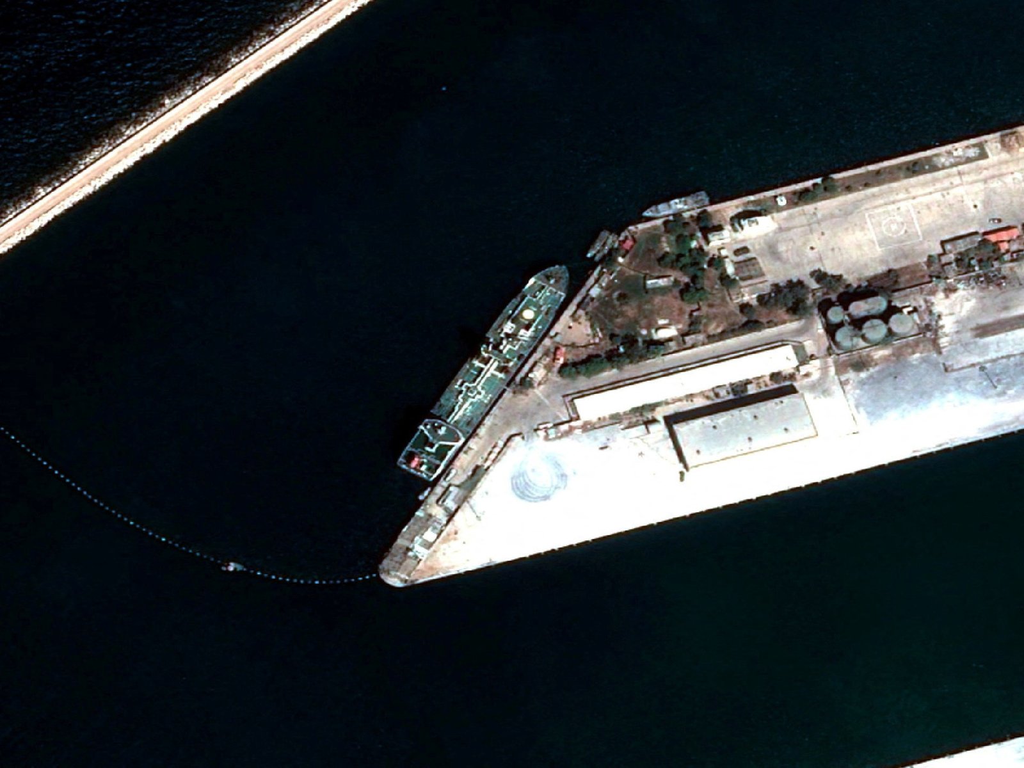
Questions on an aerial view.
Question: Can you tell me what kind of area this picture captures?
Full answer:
The area seen from above is a port.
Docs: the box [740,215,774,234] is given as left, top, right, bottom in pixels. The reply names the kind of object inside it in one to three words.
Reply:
building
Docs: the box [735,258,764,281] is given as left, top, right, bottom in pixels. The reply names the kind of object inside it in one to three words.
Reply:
building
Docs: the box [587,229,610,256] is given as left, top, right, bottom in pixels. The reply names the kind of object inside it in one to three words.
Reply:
boat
